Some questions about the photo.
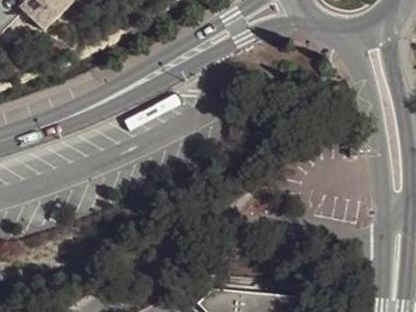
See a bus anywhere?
Yes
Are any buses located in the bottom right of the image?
No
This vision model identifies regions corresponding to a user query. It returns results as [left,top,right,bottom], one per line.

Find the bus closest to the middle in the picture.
[124,92,184,132]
